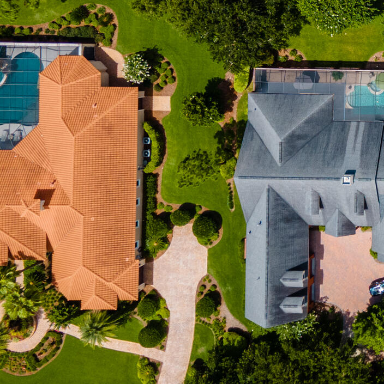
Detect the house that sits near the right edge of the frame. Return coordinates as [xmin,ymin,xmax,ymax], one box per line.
[233,92,384,327]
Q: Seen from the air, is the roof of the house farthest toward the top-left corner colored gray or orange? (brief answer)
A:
orange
